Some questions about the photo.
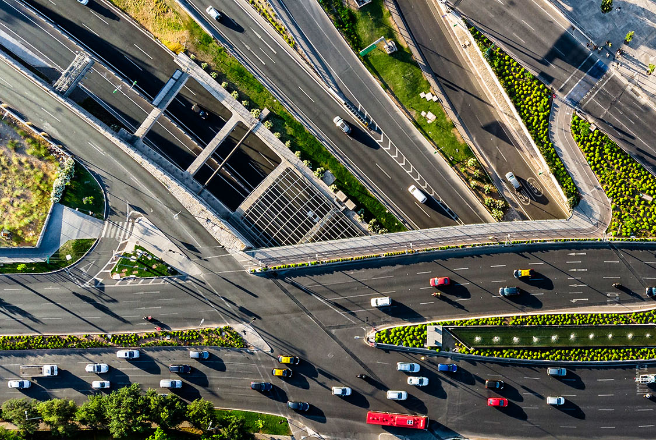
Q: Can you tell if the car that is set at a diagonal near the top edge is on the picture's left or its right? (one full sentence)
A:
The car that is set at a diagonal near the top edge appears in the left half of the scene.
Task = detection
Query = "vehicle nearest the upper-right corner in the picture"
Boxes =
[504,168,522,192]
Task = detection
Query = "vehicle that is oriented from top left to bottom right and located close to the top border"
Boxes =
[204,3,225,24]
